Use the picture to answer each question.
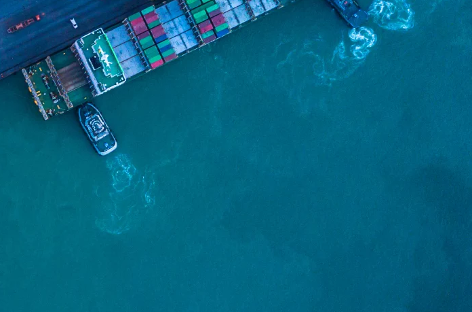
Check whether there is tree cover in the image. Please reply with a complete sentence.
No, tree cover can't be seen anywhere here.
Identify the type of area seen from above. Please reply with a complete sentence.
What you see here is a port.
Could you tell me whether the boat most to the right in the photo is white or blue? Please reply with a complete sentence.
From above, the boat most to the right appears blue.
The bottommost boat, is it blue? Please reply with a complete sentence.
Yes, the bottommost boat is blue.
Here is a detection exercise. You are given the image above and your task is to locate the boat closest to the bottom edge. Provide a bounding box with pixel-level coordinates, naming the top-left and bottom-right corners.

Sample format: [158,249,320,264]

[76,103,111,159]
